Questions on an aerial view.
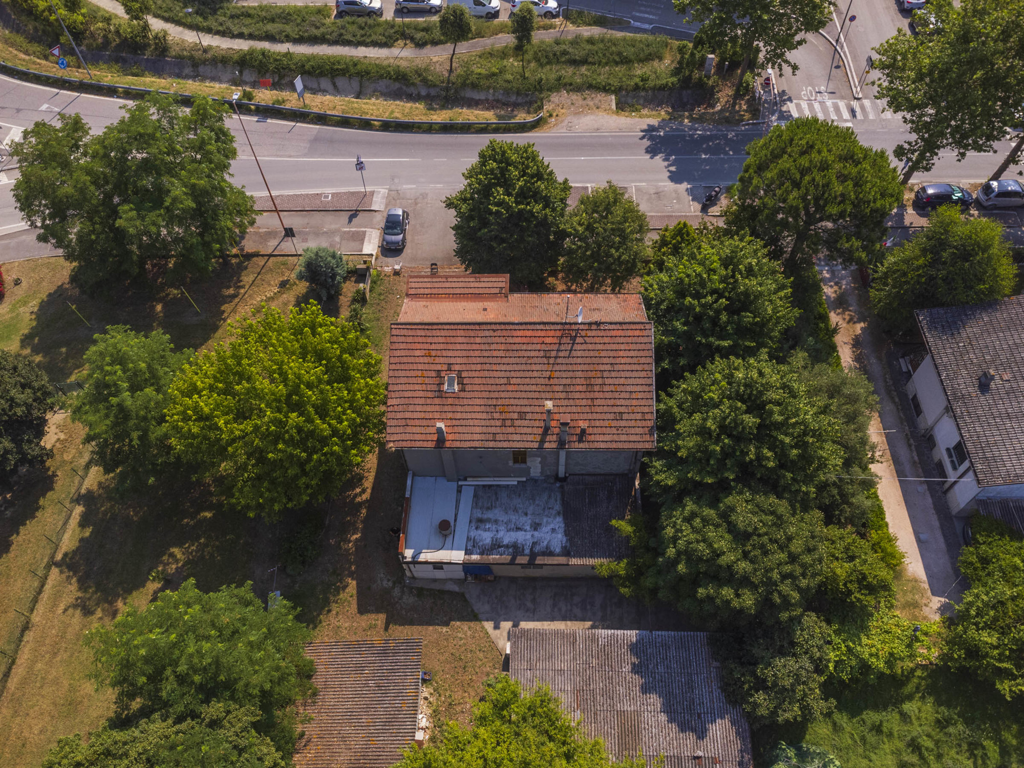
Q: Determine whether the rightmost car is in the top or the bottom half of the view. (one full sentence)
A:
It is in the top half that the rightmost car appears.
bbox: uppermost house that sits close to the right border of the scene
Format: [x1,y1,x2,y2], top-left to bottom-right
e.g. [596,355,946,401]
[905,290,1024,516]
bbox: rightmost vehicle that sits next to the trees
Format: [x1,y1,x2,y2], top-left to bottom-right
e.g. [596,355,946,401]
[990,182,1024,210]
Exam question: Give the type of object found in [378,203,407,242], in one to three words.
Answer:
car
